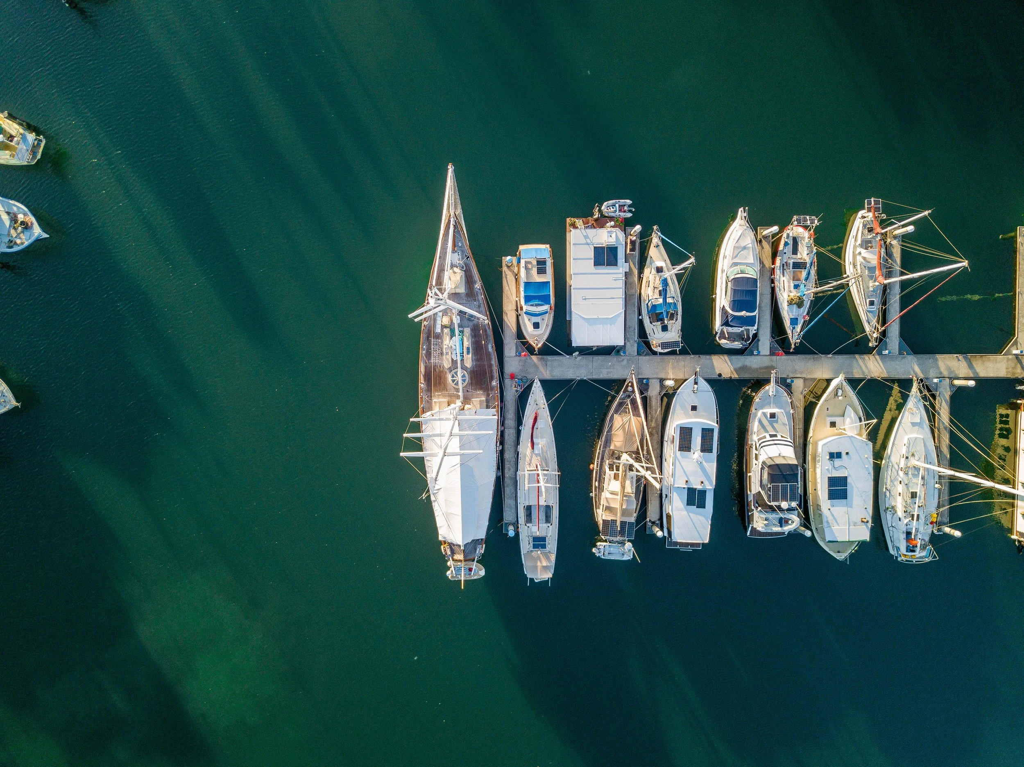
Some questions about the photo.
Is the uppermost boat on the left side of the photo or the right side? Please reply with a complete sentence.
The uppermost boat appears in the left half of the scene.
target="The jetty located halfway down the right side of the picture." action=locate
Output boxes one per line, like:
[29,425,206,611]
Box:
[503,226,1024,534]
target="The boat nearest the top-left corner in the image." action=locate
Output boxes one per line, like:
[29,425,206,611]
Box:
[0,112,48,165]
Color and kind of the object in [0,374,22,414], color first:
gray boat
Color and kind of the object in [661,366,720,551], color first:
white boat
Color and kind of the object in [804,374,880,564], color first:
white boat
